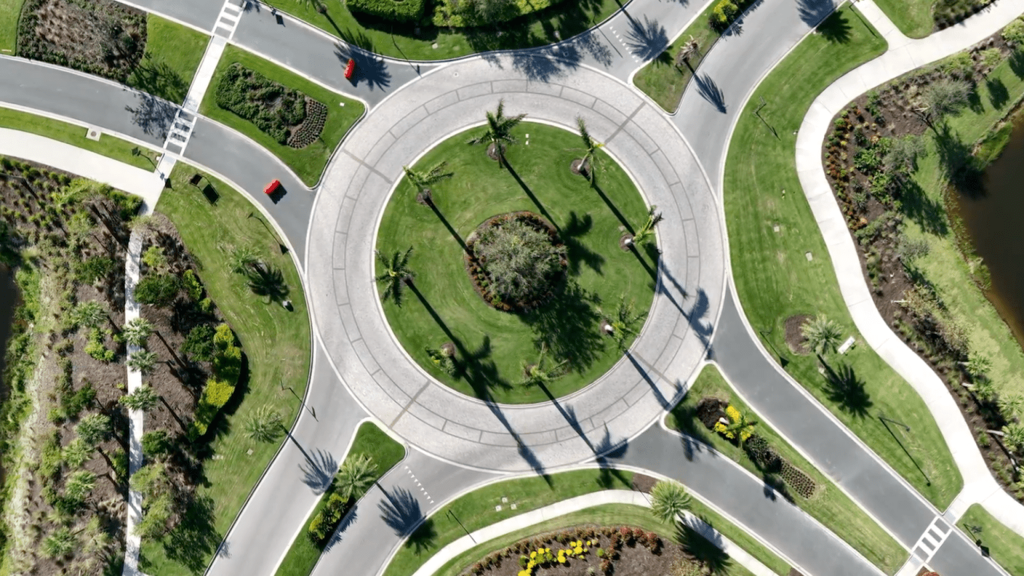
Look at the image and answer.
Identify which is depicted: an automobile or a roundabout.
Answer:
roundabout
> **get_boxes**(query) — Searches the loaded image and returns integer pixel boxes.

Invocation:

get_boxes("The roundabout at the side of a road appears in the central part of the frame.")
[307,58,726,474]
